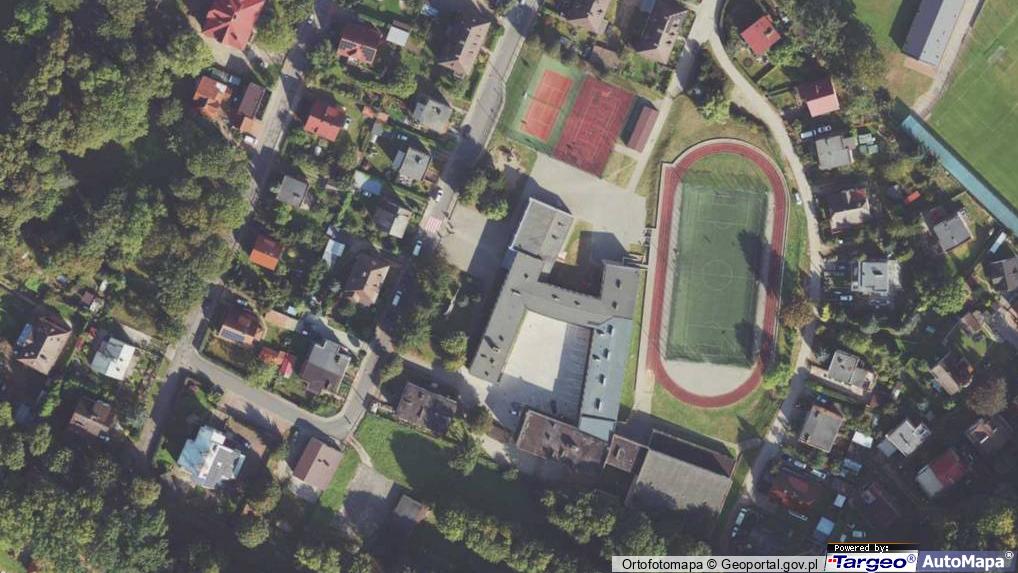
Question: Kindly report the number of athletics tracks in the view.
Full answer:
Only 1 athletics track is visible.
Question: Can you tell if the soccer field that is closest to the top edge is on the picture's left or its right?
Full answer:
The soccer field that is closest to the top edge appears in the right half of the scene.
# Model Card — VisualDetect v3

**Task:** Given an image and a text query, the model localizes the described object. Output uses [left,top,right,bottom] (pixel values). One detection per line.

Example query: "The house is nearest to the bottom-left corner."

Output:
[70,397,116,438]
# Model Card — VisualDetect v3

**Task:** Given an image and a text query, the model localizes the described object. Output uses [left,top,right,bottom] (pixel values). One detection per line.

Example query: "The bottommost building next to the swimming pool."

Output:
[373,202,411,240]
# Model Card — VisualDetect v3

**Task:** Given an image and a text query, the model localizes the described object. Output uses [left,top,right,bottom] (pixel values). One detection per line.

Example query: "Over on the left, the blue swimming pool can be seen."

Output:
[363,178,381,197]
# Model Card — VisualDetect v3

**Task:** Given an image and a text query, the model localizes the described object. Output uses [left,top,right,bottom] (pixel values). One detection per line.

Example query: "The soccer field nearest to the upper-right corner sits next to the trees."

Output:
[928,0,1018,205]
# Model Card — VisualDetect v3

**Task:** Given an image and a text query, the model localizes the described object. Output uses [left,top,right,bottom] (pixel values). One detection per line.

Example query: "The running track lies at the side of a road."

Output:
[646,136,788,411]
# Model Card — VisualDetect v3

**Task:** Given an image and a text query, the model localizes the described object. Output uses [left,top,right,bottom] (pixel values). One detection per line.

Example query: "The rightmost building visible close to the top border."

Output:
[903,0,965,65]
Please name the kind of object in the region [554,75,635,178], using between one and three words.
sports court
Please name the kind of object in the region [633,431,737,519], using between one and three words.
building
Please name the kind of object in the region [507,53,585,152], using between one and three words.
tennis court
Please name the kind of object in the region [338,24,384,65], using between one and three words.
house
